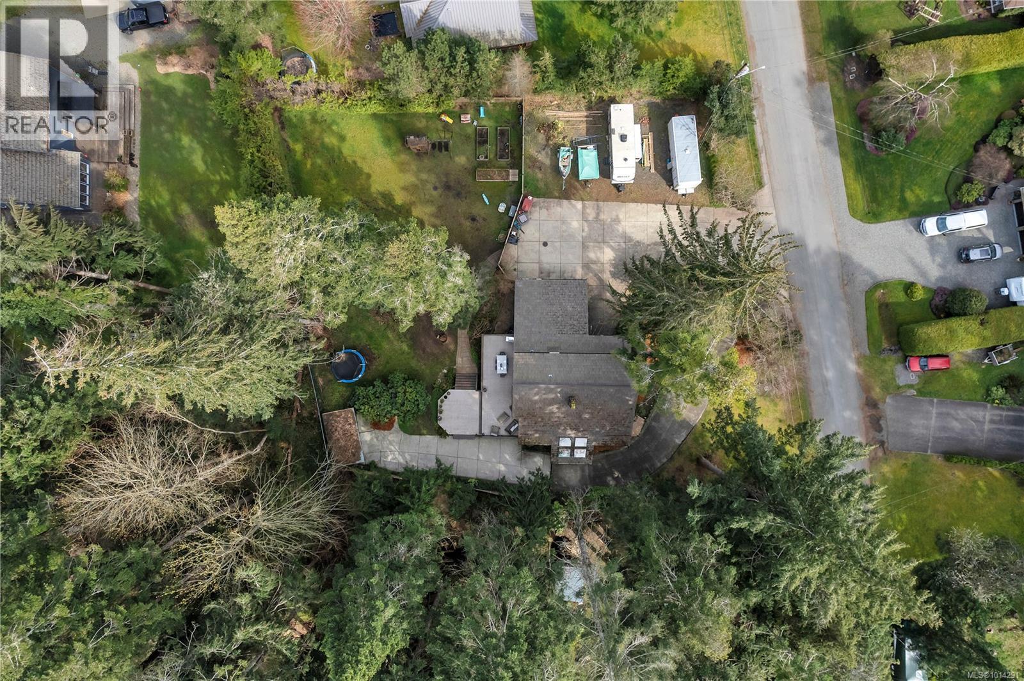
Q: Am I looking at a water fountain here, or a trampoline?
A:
trampoline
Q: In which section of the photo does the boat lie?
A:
top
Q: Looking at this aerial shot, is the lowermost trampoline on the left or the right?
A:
left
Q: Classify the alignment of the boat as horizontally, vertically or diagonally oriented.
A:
vertically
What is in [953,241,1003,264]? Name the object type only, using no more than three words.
car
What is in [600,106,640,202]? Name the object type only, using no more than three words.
trailer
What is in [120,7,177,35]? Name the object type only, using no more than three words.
truck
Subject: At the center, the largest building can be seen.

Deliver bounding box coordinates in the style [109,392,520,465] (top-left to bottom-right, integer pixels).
[511,277,644,465]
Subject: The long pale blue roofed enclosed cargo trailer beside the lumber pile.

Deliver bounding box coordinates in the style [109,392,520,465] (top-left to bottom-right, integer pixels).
[666,116,702,204]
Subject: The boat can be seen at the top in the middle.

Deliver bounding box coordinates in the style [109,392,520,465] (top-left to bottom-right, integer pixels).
[555,143,576,188]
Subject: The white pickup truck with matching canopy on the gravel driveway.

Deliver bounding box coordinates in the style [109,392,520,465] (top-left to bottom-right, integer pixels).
[917,210,987,237]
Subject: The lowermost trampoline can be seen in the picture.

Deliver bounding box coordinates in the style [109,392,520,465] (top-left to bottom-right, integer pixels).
[327,349,365,385]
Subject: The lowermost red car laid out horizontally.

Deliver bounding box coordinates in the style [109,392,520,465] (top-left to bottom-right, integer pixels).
[903,353,951,375]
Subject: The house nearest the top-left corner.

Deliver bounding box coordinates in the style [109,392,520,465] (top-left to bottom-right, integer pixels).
[0,51,101,217]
